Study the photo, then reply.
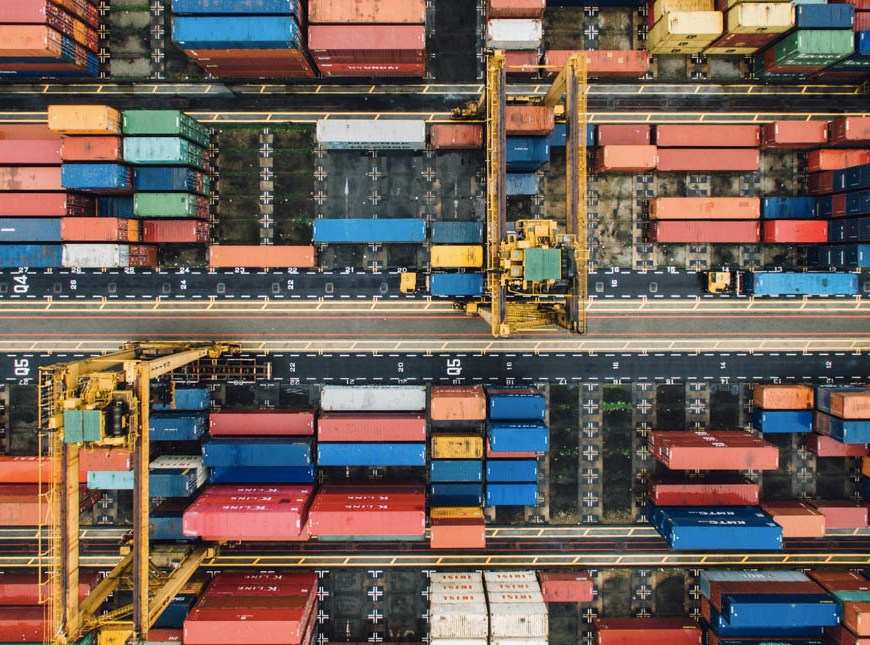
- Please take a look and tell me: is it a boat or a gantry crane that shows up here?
gantry crane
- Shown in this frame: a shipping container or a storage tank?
shipping container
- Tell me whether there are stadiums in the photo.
No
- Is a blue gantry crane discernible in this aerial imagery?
No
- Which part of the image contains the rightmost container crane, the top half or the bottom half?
top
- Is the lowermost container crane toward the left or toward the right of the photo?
left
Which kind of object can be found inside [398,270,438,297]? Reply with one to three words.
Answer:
truck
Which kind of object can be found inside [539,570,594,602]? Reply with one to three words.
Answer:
shipping container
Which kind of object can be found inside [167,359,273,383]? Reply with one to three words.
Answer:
trailer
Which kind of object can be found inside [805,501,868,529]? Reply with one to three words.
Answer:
shipping container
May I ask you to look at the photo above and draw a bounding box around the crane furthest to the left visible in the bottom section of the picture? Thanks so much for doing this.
[29,345,240,644]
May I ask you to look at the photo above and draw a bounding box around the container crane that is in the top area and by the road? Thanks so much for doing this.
[449,52,591,335]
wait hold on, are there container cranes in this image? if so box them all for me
[29,345,240,644]
[449,52,591,335]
